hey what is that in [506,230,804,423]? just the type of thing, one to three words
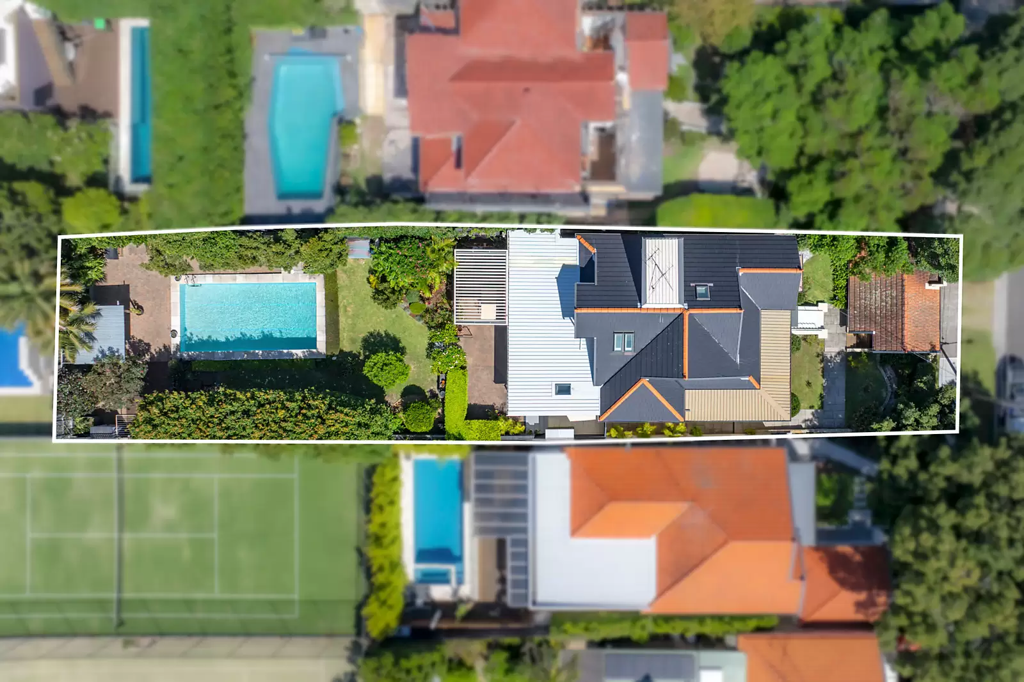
house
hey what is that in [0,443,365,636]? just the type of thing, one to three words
tennis court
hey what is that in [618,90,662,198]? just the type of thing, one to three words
shed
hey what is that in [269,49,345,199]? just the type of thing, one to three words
swimming pool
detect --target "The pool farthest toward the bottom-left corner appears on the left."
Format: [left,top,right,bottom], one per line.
[0,295,42,394]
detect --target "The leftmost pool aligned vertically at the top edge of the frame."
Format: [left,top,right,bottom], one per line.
[119,18,151,192]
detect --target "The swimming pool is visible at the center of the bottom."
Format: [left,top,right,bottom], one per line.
[401,453,475,600]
